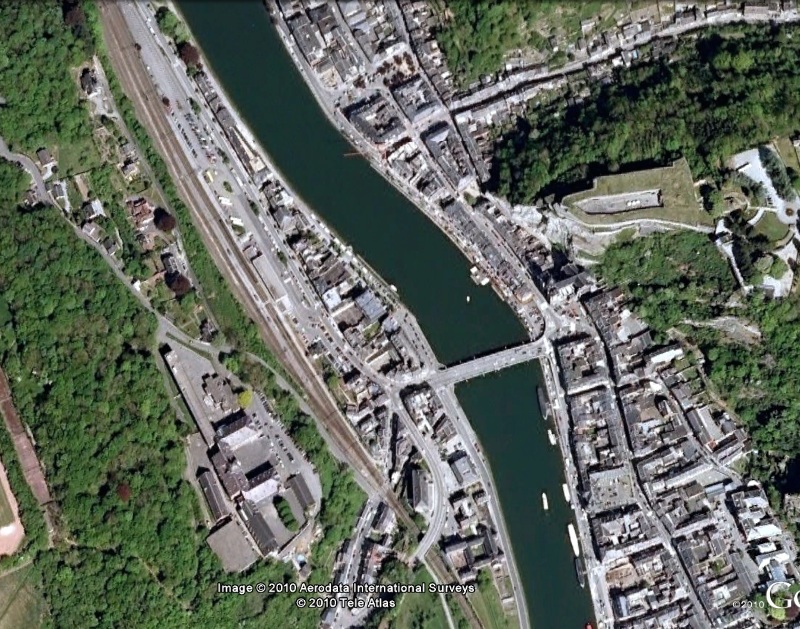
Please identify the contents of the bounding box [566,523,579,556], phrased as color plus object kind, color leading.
white boat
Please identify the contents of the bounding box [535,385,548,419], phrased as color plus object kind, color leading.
gray ship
